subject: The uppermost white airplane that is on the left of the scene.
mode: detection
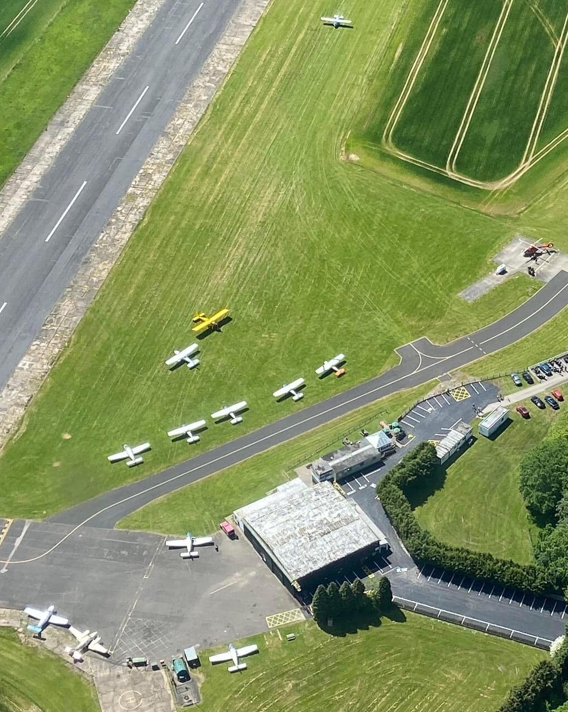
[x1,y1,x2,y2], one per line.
[165,344,200,367]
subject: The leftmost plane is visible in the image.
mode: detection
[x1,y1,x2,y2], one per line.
[21,603,74,632]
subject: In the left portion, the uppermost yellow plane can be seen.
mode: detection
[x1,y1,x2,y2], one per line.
[192,311,227,333]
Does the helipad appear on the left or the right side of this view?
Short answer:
right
